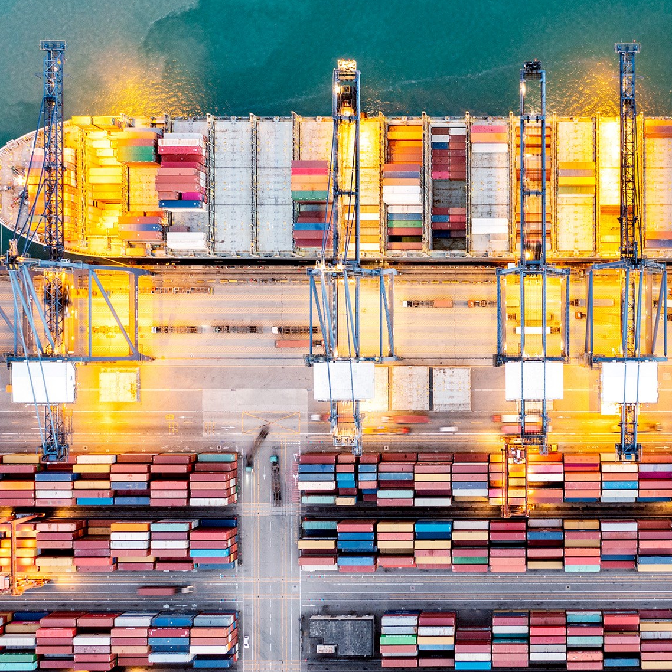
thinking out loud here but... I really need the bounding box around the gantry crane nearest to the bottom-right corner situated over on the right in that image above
[497,431,534,518]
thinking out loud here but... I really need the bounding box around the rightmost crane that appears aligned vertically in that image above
[572,38,670,459]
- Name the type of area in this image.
port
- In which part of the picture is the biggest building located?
bottom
